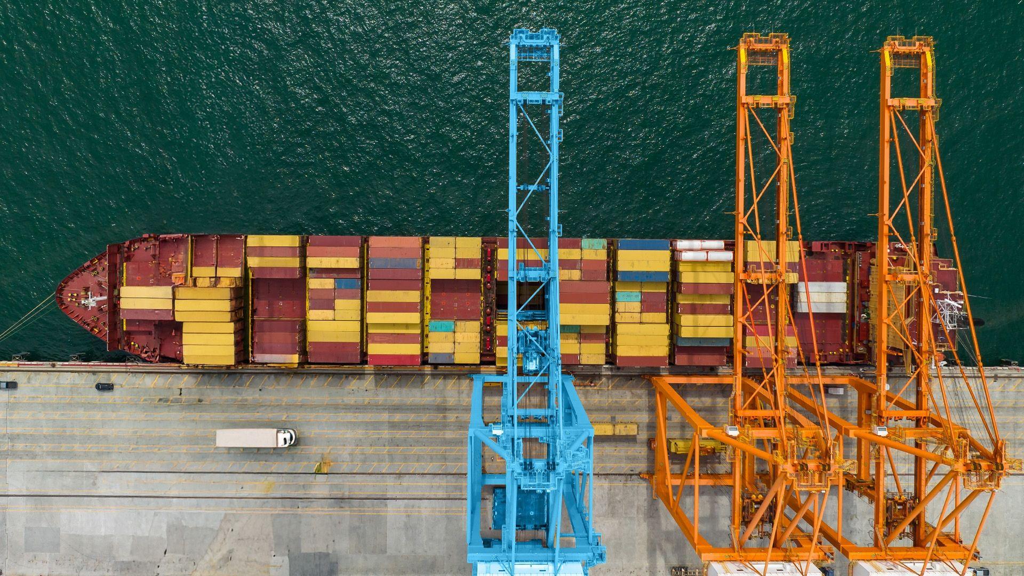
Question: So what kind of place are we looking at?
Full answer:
This image shows a port.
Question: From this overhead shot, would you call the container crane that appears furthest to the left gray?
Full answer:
No, the color of the container crane that appears furthest to the left is blue.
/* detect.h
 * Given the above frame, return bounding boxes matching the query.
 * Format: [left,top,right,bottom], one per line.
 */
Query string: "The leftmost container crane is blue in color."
[467,20,606,576]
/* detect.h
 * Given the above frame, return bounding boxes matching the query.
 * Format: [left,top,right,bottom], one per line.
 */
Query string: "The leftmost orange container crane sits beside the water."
[635,22,863,576]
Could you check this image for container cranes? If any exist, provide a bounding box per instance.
[467,20,606,576]
[635,22,863,576]
[743,23,1024,576]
